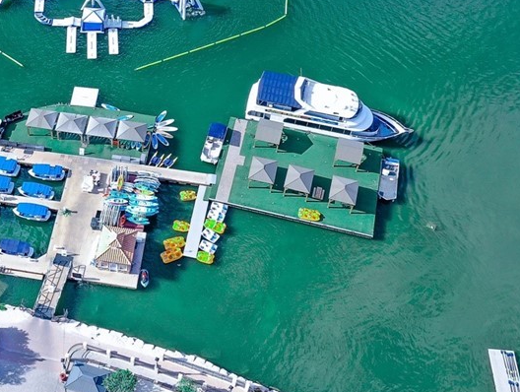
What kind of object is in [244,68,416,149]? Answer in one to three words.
boat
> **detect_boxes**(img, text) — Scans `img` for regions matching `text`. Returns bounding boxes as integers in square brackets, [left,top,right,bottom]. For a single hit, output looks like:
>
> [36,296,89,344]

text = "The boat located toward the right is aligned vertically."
[377,159,401,201]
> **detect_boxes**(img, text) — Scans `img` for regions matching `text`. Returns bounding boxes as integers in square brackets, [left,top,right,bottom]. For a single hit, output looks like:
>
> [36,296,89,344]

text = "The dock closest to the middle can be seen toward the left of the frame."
[183,186,209,259]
